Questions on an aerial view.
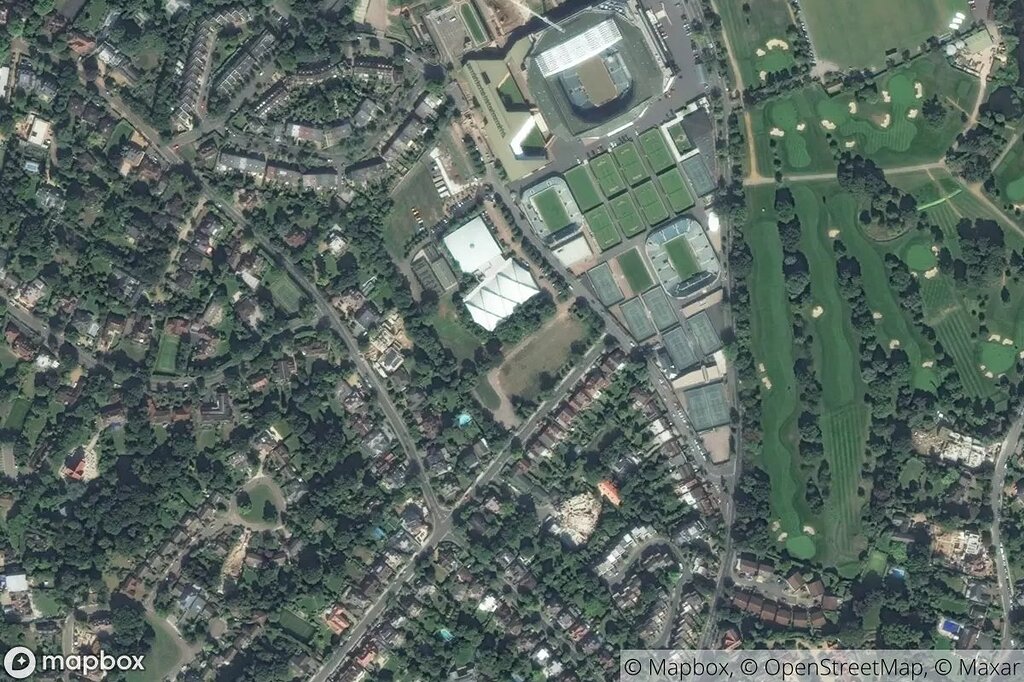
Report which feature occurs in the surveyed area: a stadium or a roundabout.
stadium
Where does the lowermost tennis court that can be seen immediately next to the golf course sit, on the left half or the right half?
right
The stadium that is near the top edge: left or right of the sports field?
on its left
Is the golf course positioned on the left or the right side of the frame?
right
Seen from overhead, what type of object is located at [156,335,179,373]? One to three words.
tennis court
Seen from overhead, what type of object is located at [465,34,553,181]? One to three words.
building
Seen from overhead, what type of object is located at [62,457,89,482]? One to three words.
house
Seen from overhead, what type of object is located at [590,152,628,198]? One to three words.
tennis court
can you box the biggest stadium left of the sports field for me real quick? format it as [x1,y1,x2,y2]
[526,6,667,137]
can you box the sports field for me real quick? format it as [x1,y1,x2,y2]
[808,0,975,68]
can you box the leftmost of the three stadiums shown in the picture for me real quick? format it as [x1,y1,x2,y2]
[520,176,584,246]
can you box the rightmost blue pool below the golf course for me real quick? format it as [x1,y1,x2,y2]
[942,619,960,635]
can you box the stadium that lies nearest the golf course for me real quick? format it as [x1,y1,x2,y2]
[645,215,722,299]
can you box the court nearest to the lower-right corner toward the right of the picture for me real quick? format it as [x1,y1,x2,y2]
[683,382,730,431]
